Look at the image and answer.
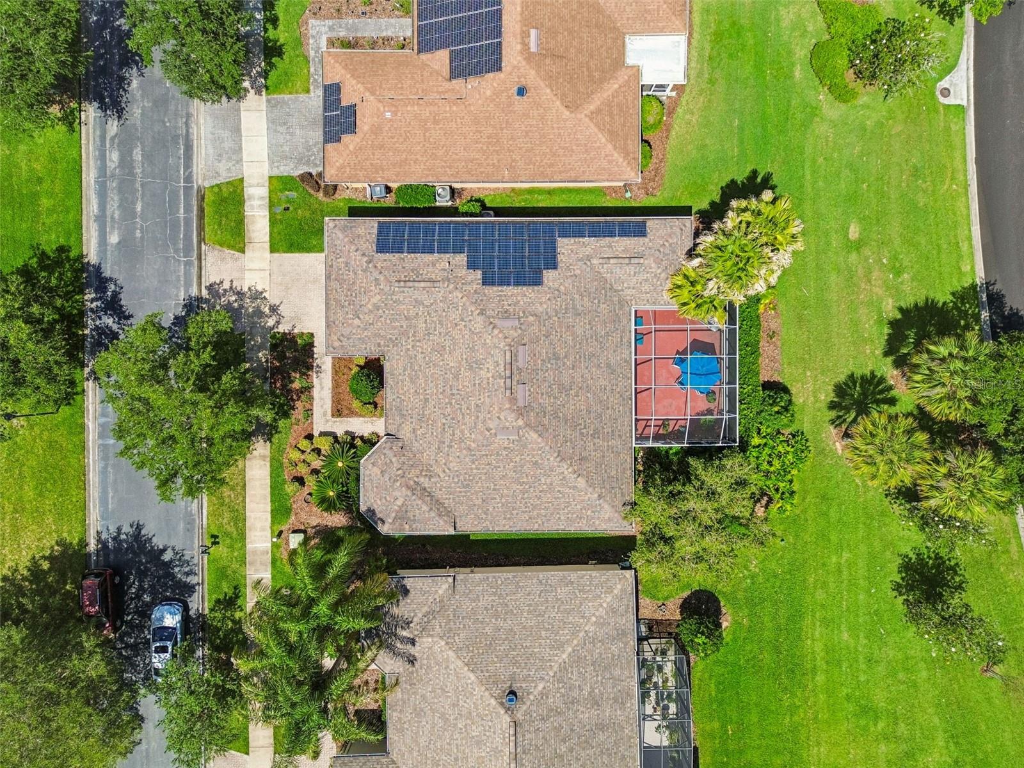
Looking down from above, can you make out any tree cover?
Yes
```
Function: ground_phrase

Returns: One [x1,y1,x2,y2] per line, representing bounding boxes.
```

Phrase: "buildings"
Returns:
[330,565,640,768]
[323,215,696,536]
[321,0,690,204]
